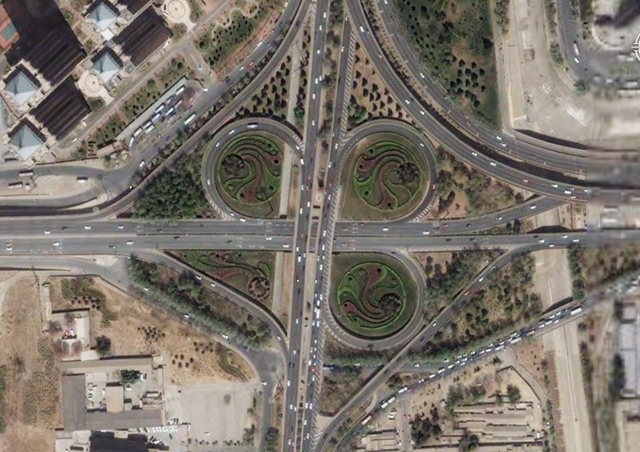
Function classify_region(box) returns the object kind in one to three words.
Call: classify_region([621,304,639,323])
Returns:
building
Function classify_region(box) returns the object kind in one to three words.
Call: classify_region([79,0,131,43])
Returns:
building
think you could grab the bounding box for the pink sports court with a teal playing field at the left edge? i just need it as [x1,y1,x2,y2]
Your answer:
[0,3,20,50]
